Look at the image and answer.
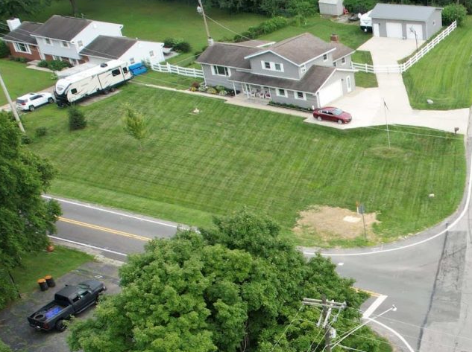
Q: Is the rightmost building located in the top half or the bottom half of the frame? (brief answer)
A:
top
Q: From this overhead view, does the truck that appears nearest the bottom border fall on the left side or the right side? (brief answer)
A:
left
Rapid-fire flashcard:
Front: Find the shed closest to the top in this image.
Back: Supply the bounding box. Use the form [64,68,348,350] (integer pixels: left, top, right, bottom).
[316,0,342,15]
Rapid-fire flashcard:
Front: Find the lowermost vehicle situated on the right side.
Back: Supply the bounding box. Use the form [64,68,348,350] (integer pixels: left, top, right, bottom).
[309,105,354,125]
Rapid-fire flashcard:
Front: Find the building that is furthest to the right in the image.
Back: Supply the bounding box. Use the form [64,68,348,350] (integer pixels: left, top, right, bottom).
[368,5,437,40]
